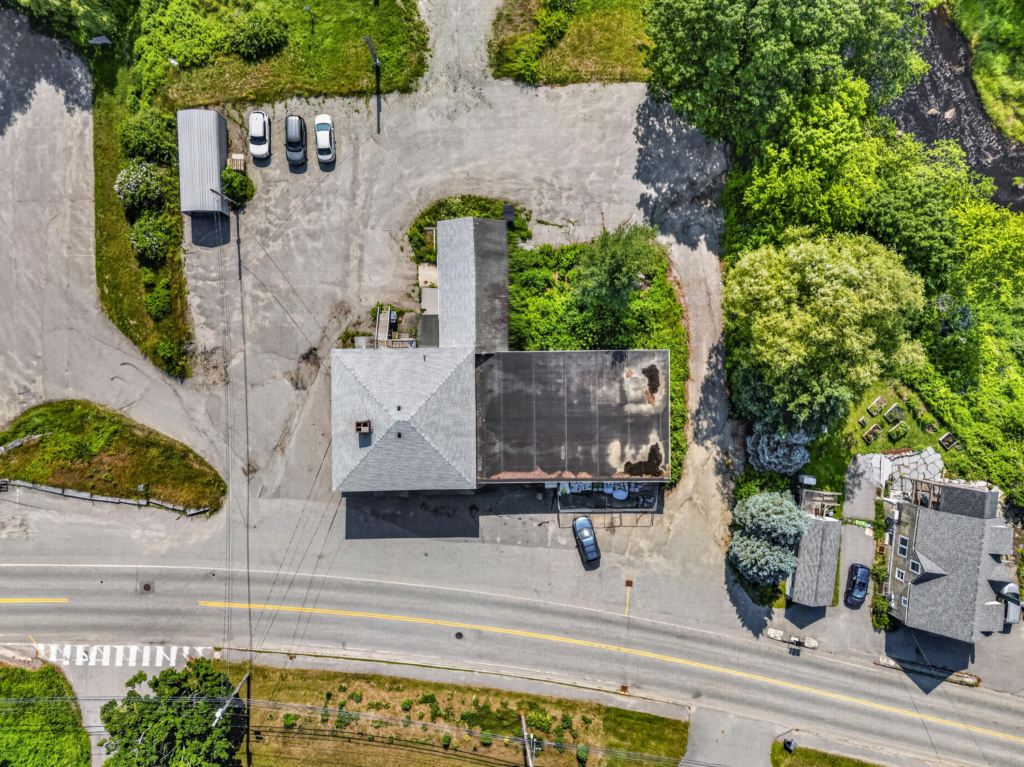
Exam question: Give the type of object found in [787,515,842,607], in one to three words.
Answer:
building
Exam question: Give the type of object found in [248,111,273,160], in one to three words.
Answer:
car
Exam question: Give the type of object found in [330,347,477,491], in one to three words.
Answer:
building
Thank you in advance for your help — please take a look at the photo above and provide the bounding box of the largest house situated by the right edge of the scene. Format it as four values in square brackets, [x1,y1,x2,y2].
[887,485,1018,644]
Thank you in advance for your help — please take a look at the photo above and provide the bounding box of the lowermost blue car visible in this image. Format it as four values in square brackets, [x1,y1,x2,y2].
[842,560,871,608]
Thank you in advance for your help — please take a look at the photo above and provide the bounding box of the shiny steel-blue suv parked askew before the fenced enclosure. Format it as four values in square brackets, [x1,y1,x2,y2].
[572,514,601,564]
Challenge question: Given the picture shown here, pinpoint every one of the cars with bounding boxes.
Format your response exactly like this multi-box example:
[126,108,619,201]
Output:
[284,116,309,166]
[572,514,601,564]
[312,115,336,163]
[248,111,273,160]
[842,560,871,608]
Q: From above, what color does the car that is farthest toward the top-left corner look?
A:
white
